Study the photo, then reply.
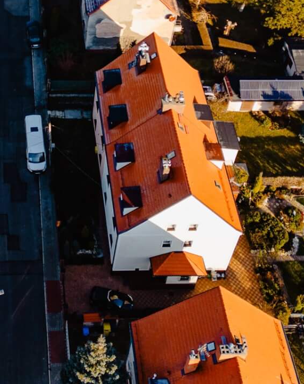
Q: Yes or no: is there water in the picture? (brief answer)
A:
No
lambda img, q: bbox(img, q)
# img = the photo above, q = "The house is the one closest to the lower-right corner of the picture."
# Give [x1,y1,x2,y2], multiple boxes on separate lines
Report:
[128,285,300,384]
